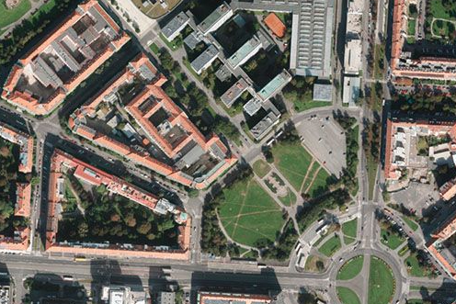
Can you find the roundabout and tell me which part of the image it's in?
bottom right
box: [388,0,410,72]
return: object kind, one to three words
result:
building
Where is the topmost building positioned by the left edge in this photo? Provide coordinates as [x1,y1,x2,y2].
[5,0,133,116]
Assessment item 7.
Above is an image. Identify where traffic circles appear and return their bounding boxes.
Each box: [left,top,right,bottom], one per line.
[330,248,403,304]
